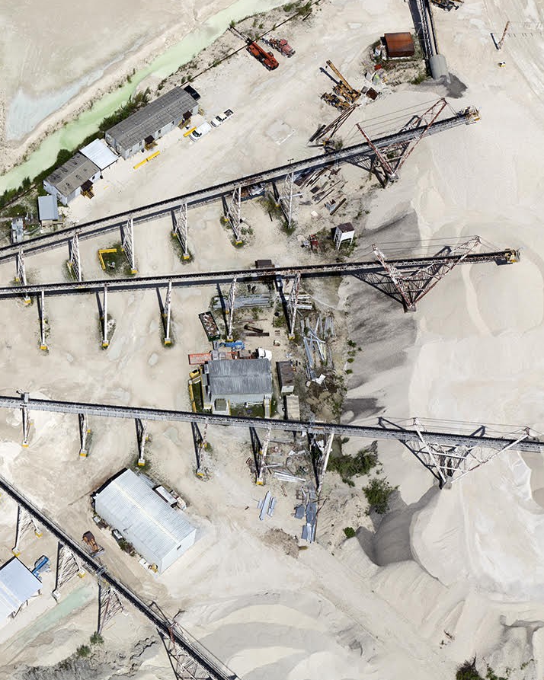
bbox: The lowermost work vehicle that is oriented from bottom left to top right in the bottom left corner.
[31,552,51,577]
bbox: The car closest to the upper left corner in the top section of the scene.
[183,83,202,98]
